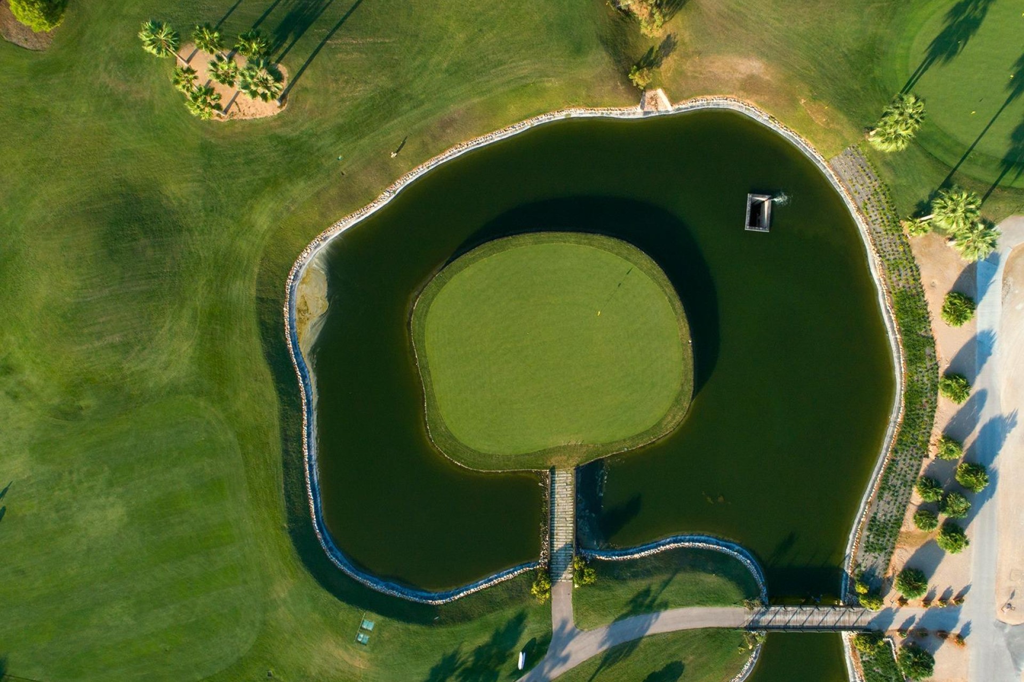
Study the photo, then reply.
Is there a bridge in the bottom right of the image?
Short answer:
Yes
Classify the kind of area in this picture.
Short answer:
golf course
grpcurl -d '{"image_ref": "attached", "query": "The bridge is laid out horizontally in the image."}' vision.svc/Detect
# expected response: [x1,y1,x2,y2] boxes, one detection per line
[745,604,879,637]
